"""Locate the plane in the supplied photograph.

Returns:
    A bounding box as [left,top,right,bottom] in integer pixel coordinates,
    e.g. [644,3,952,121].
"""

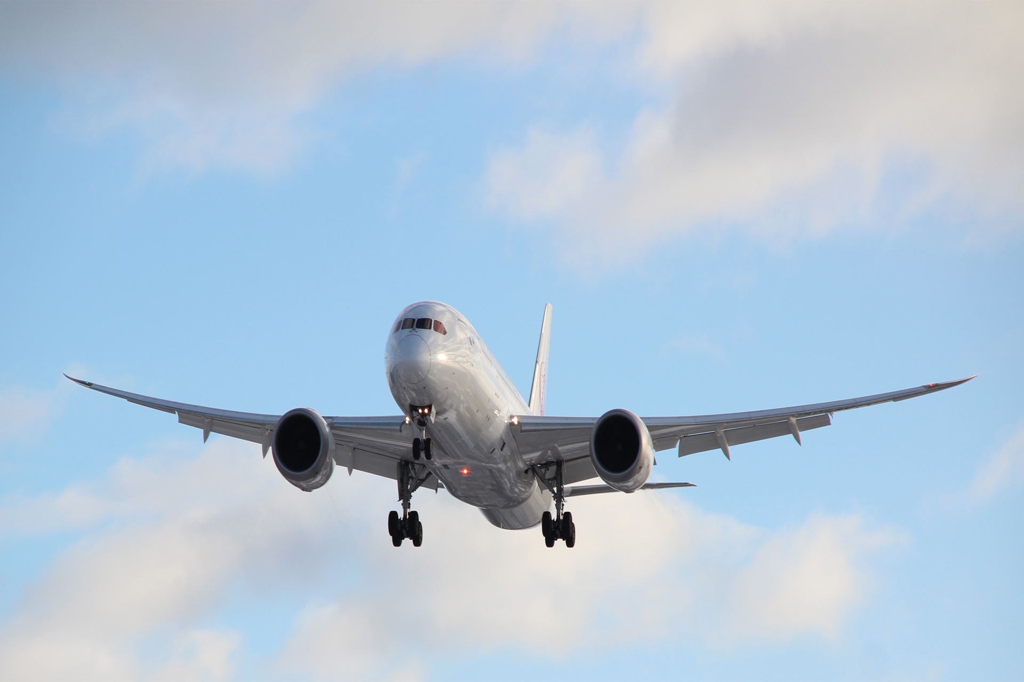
[62,300,977,547]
